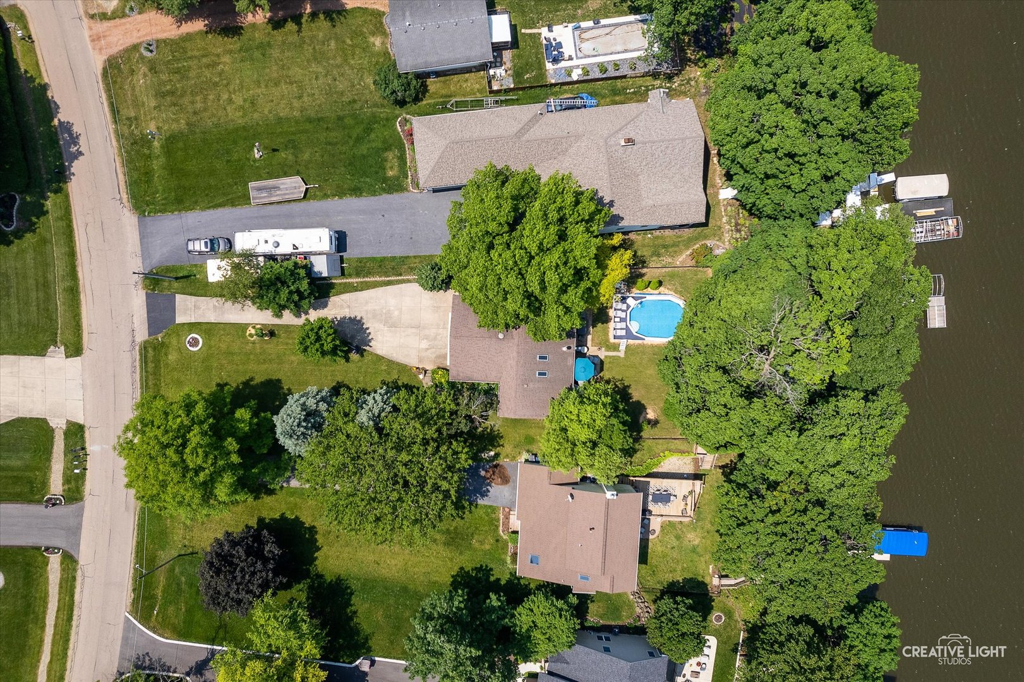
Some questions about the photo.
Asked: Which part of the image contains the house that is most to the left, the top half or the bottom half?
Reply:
top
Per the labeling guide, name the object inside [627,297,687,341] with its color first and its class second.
blue swimming pool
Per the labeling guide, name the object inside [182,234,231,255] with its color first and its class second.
gray car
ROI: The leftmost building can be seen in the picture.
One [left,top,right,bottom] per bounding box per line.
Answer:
[385,0,494,77]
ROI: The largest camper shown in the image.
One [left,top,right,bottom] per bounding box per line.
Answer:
[233,220,348,252]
